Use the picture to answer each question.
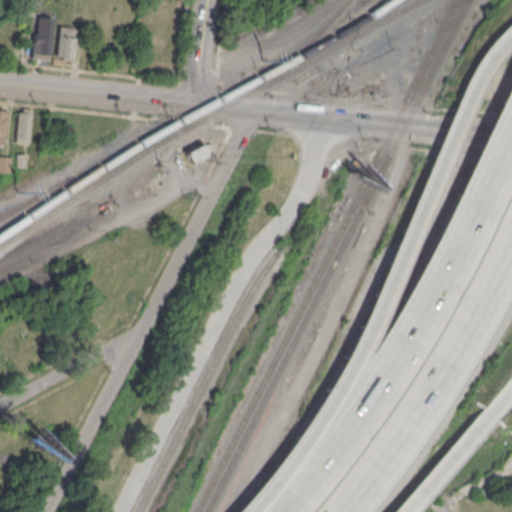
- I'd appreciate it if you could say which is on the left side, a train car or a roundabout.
train car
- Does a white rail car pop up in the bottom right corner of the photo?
No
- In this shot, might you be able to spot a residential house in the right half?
No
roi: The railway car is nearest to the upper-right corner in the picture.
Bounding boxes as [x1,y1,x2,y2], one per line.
[368,0,412,21]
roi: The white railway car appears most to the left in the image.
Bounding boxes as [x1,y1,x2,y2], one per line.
[0,212,34,241]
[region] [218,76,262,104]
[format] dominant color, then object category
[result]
white rail car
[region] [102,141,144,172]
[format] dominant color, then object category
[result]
white rail car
